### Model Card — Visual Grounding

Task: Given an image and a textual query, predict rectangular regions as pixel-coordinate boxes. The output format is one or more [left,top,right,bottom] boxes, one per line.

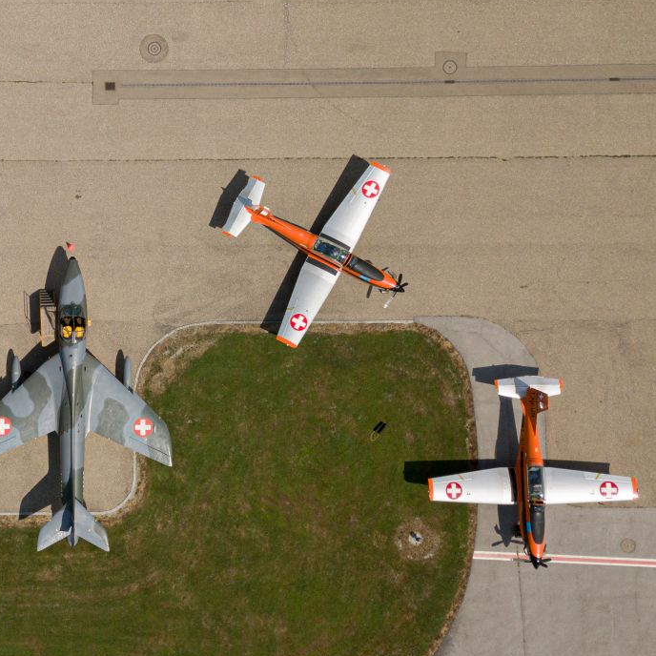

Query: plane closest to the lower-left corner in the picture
[0,255,173,551]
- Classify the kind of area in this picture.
airport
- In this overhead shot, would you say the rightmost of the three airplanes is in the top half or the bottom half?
bottom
